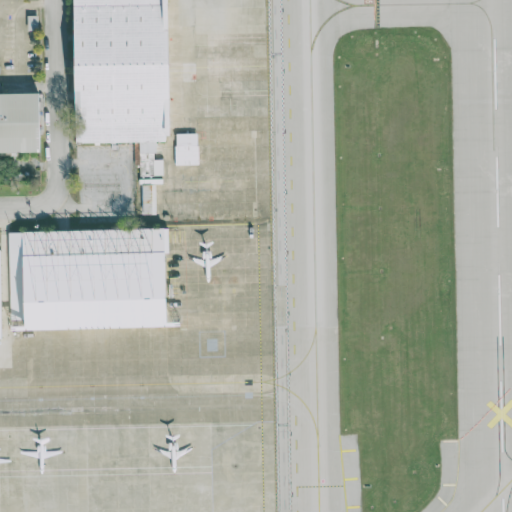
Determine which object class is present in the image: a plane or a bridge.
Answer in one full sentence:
I can see a plane in this picture.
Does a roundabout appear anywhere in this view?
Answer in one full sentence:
No, this view has no roundabout in it.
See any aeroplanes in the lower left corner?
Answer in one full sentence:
Yes, I can see an aeroplane in the lower left corner.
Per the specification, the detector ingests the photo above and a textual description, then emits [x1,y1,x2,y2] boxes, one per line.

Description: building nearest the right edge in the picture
[176,134,200,166]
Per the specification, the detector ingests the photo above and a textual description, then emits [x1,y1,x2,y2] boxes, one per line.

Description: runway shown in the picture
[422,0,512,512]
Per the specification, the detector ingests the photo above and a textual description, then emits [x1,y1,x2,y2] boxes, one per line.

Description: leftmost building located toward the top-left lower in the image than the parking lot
[0,94,42,153]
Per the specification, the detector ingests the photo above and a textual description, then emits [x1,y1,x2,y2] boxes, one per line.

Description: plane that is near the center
[189,242,226,282]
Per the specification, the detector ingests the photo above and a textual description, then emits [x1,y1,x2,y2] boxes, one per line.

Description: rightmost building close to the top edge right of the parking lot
[74,0,170,145]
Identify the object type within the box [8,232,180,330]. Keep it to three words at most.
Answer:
hangar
